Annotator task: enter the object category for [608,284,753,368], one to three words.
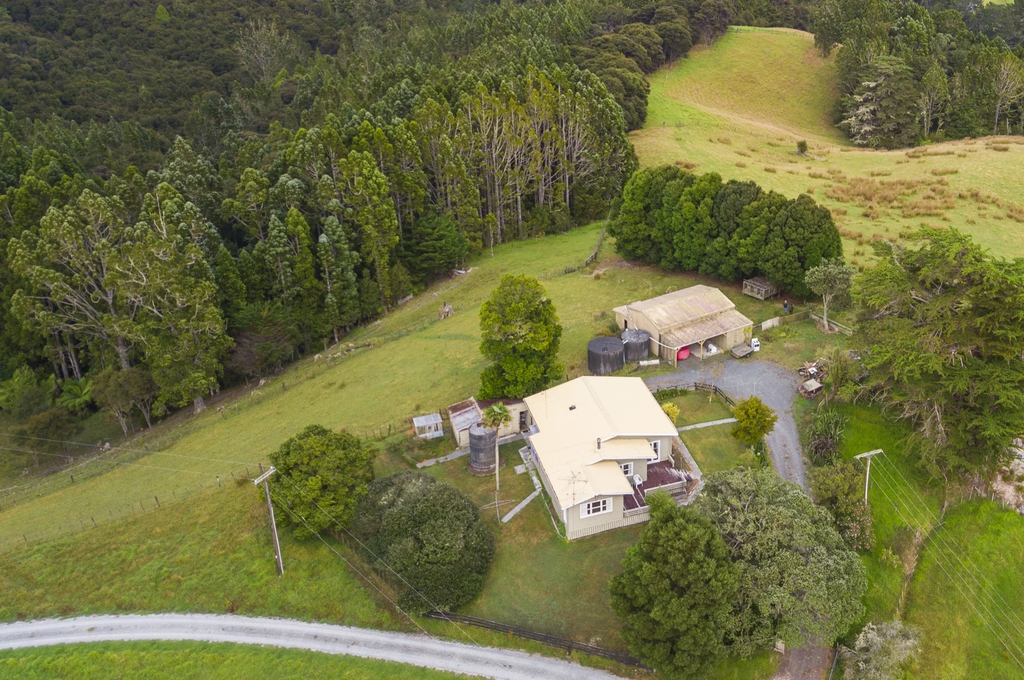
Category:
shed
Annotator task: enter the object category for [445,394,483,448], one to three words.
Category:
shed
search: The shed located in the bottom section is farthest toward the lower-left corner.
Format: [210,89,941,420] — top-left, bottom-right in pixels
[412,415,445,444]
